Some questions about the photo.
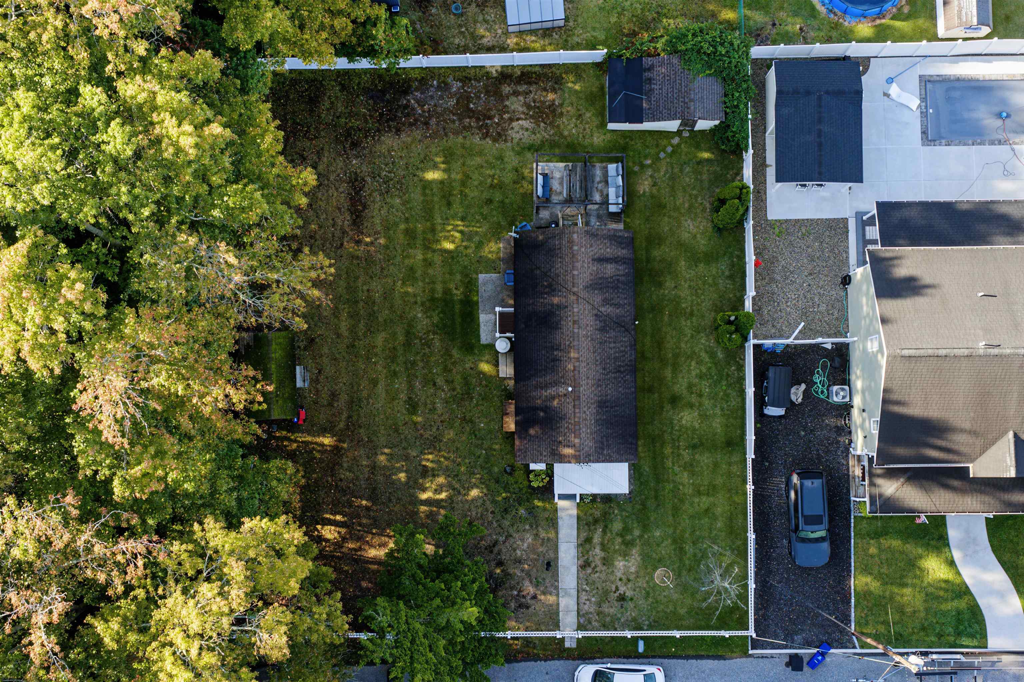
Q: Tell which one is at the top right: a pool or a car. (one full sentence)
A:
What appears at the top right is a pool.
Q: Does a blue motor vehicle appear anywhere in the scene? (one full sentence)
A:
Yes, a blue motor vehicle is visible in the scene.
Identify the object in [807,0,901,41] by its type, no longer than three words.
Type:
swimming pool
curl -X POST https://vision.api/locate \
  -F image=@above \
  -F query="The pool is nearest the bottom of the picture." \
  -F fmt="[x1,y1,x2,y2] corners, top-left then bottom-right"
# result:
[920,74,1024,146]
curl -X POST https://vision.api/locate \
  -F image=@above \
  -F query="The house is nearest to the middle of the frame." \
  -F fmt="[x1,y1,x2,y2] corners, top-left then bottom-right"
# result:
[496,227,639,507]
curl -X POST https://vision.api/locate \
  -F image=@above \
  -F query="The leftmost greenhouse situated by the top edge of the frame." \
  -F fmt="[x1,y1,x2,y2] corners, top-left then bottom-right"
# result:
[507,0,565,32]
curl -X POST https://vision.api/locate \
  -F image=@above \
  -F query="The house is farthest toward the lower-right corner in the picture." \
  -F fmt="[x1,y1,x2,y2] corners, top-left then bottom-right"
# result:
[850,199,1024,520]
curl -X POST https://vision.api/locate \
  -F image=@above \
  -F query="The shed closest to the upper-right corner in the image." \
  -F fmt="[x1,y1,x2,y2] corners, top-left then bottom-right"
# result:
[938,0,1008,38]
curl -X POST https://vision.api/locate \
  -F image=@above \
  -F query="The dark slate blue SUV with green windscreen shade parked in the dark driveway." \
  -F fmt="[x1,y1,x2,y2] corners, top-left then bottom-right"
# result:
[785,470,836,564]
